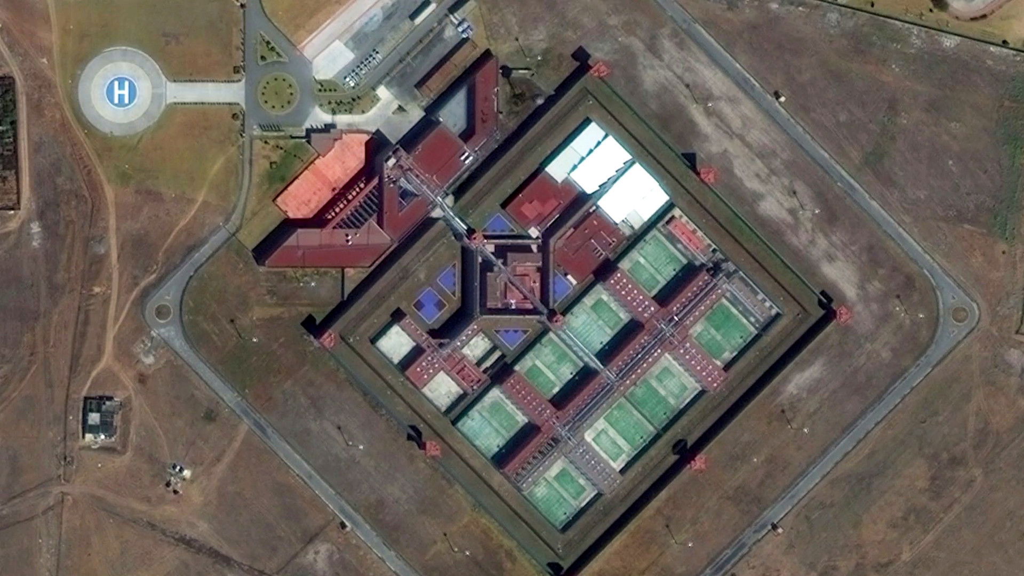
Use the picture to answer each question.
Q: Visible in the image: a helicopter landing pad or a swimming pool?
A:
helicopter landing pad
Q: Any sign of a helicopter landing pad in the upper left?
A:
Yes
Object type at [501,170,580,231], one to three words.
building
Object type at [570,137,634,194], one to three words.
building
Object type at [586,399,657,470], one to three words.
sports court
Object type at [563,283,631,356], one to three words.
sports court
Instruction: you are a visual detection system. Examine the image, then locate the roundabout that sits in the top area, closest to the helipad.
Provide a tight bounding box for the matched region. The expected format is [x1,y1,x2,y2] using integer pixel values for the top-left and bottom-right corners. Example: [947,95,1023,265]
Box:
[257,72,299,114]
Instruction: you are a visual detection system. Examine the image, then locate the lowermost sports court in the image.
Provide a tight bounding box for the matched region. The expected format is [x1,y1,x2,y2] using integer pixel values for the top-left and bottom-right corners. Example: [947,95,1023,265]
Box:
[523,457,598,530]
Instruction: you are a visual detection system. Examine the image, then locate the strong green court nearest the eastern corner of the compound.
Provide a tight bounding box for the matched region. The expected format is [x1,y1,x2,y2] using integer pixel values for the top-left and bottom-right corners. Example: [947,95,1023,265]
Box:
[693,297,759,366]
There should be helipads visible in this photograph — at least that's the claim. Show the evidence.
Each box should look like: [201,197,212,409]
[78,46,165,135]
